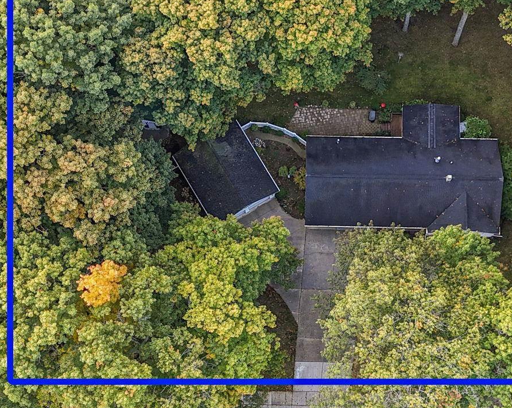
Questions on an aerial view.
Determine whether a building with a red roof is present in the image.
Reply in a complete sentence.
No, the scene contains no building with a red roof.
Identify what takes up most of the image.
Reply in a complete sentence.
For the most part, this view shows trees.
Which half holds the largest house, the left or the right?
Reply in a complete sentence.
The largest house sits on the right side.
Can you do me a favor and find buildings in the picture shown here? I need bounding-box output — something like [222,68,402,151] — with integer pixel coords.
[173,122,280,226]
[305,103,505,240]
